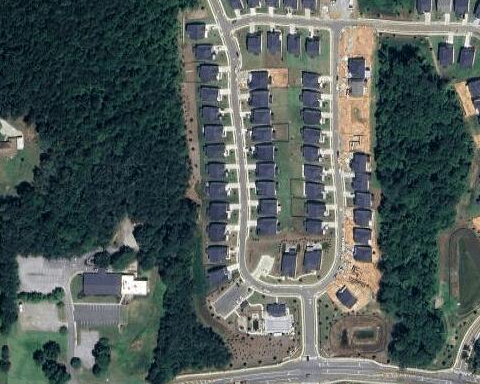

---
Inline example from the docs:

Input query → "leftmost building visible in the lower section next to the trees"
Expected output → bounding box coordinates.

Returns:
[82,269,123,296]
